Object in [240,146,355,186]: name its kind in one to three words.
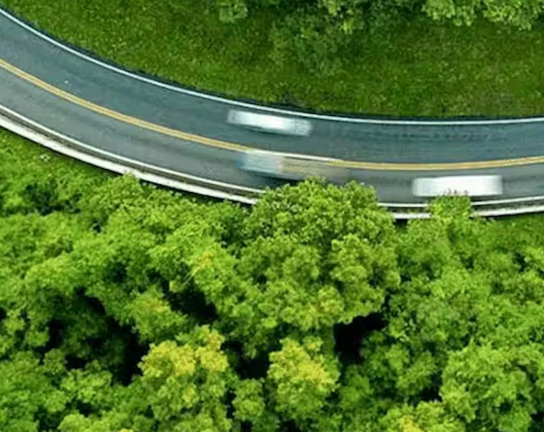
truck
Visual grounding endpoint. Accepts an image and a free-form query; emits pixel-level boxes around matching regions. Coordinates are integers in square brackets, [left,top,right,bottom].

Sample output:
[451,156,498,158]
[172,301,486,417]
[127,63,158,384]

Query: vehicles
[237,109,304,137]
[416,176,500,201]
[240,146,355,186]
